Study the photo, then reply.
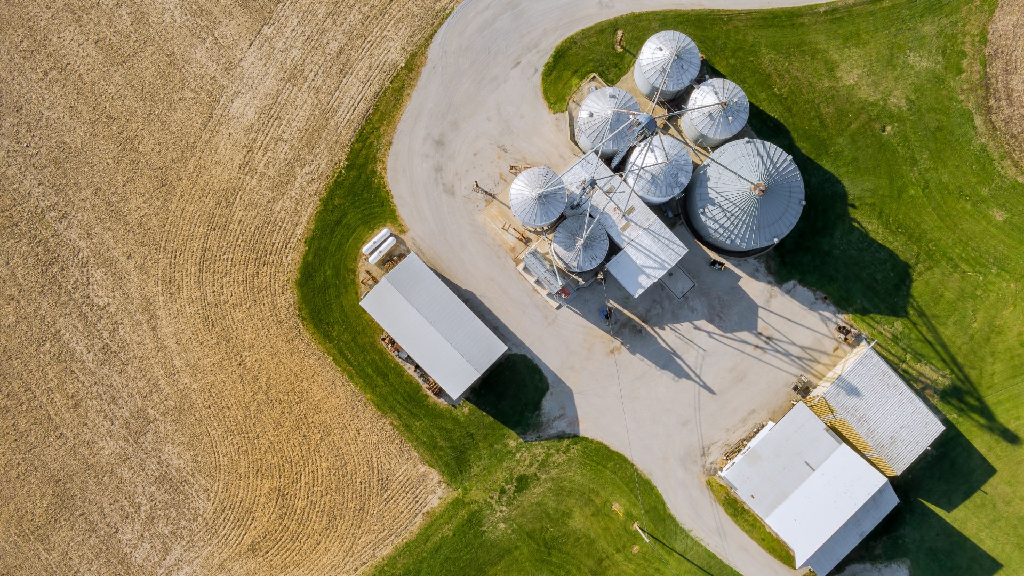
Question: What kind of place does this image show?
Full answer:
The picture captures an industrial area.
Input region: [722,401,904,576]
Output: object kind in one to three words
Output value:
barn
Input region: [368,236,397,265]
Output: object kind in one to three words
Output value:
storage tank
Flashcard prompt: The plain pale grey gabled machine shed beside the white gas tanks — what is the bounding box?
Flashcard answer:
[359,251,508,401]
